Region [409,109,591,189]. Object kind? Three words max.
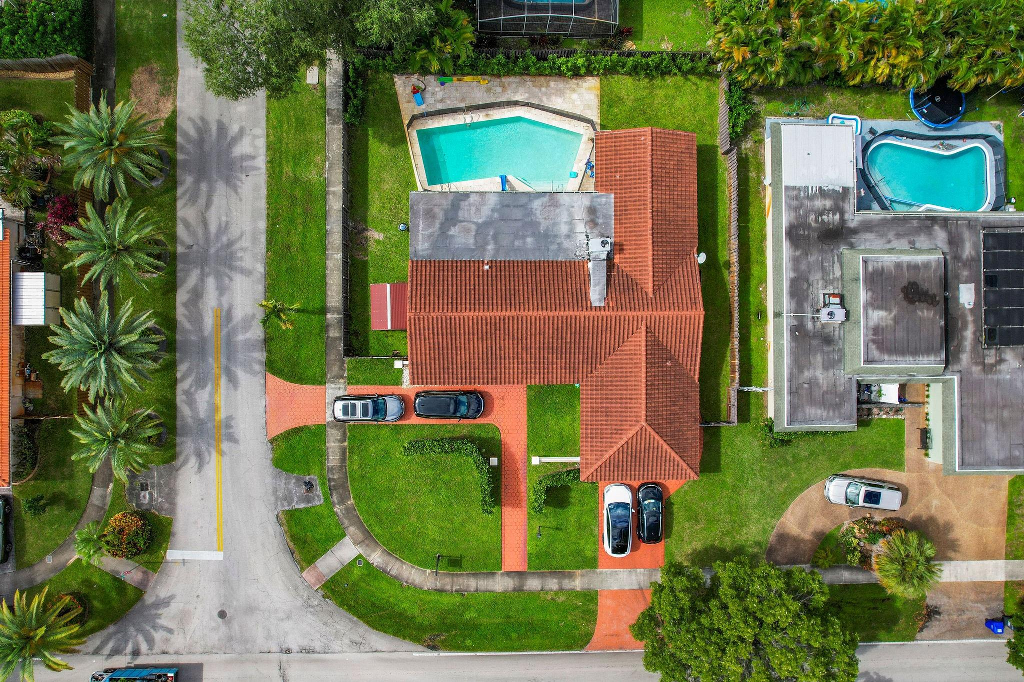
swimming pool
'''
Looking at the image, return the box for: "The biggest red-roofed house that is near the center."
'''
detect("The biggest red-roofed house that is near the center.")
[404,125,706,482]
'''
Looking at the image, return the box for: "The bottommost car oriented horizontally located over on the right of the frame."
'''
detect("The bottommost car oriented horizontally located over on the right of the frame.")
[827,475,907,514]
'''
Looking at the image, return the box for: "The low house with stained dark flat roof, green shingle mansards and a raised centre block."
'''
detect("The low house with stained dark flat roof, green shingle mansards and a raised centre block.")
[768,121,1024,474]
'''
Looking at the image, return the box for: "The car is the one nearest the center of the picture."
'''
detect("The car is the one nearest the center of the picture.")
[413,389,481,425]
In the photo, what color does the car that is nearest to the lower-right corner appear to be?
white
